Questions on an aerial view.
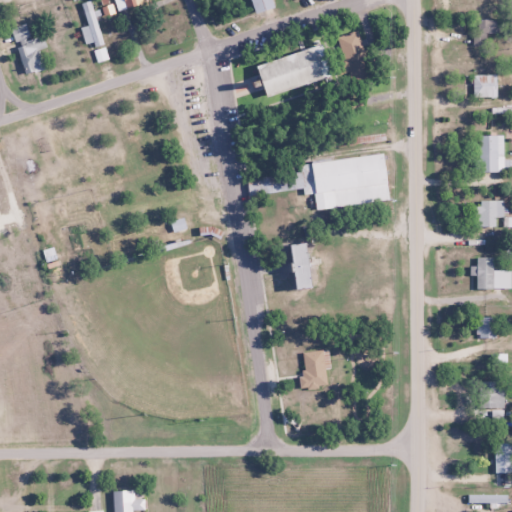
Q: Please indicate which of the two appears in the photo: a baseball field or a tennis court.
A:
baseball field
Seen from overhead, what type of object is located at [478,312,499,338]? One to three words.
house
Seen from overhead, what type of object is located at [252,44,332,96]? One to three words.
building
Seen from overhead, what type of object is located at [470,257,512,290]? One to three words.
house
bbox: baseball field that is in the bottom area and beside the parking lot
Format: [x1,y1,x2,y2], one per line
[74,243,249,420]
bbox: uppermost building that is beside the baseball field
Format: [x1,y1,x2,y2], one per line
[249,154,391,210]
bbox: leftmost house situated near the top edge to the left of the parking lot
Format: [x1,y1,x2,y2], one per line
[14,26,48,74]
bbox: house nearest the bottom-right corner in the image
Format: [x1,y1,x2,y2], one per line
[469,495,510,509]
